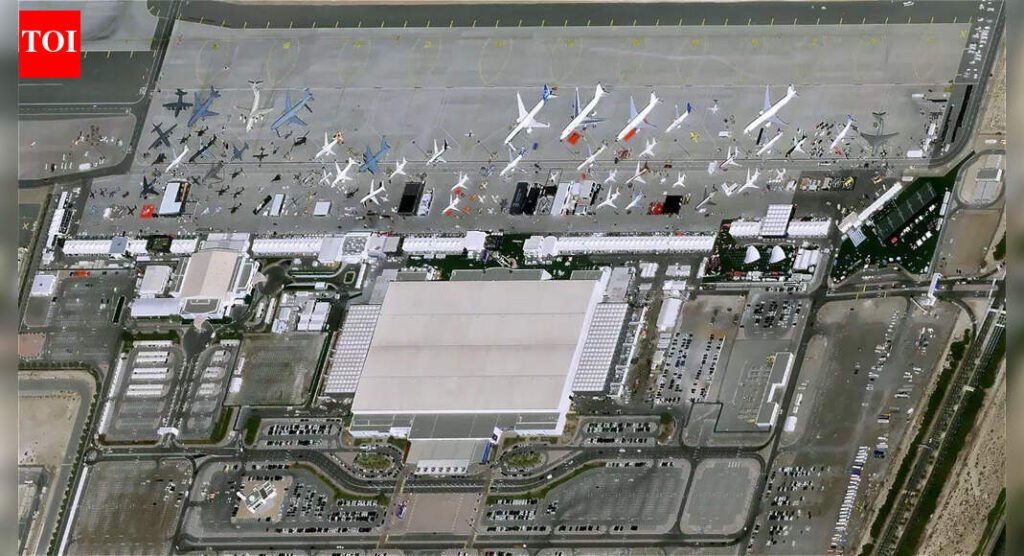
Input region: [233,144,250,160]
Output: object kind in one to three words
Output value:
airplane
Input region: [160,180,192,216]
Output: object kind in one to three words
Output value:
building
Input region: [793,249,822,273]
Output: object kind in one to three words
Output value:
tent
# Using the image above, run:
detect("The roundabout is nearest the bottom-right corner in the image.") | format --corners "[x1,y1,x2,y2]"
[499,445,551,478]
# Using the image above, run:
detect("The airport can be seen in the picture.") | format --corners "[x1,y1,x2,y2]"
[0,0,1021,243]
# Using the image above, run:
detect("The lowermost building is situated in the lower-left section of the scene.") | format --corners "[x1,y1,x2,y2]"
[236,481,280,516]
